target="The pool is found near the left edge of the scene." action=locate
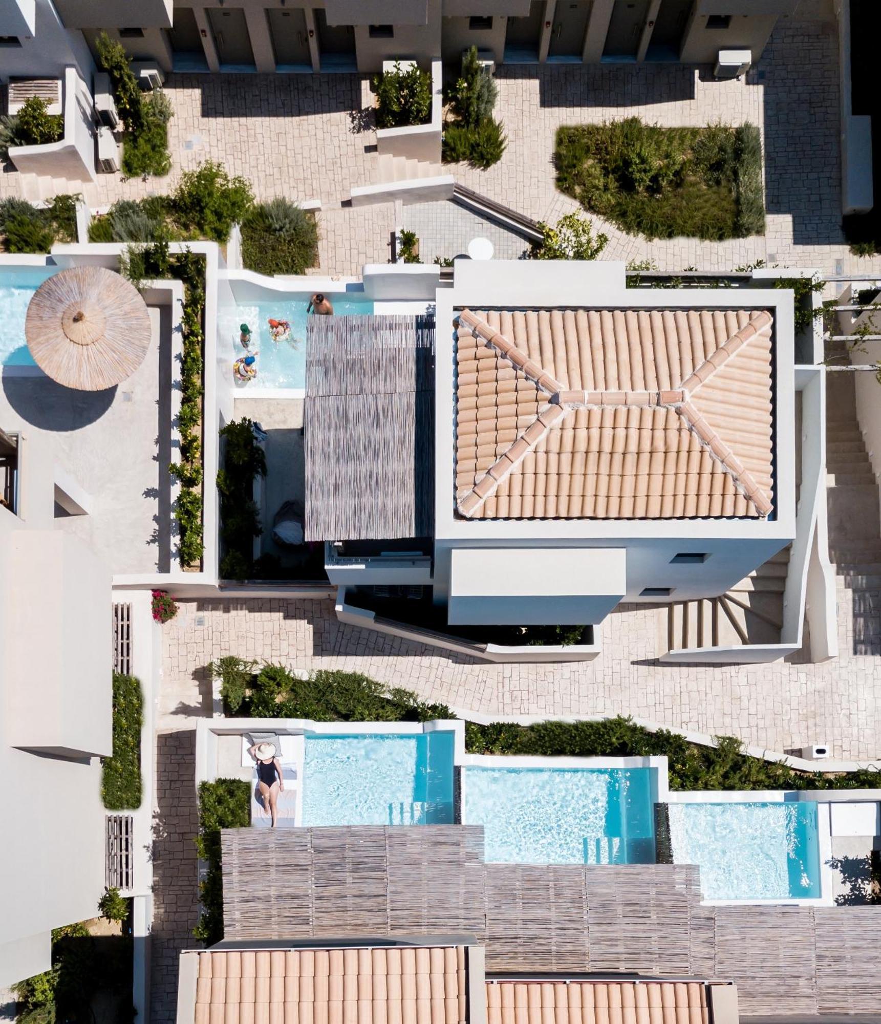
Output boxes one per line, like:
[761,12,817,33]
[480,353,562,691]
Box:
[0,295,40,366]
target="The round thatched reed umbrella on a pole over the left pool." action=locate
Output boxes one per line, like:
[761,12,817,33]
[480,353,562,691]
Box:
[26,266,151,391]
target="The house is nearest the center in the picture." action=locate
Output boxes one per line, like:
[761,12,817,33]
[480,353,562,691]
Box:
[435,261,794,626]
